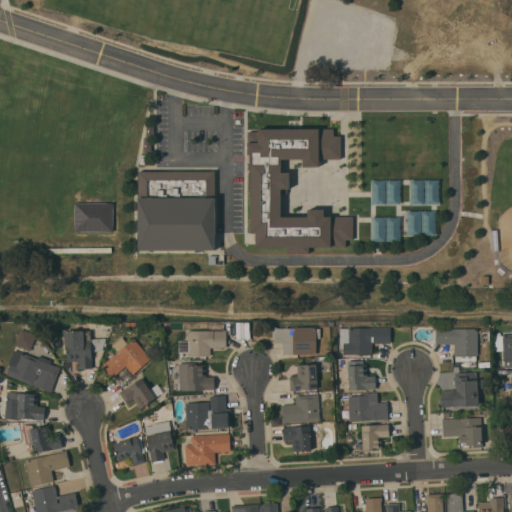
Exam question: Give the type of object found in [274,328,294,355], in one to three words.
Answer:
building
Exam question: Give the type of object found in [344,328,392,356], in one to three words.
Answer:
house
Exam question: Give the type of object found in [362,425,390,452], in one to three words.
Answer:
house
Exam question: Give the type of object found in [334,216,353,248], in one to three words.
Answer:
building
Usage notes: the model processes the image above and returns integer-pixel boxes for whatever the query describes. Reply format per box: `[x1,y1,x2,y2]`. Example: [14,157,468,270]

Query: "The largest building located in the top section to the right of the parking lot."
[247,129,331,254]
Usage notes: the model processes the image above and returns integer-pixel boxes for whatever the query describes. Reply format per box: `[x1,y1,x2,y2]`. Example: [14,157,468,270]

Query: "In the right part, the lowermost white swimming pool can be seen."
[321,426,334,448]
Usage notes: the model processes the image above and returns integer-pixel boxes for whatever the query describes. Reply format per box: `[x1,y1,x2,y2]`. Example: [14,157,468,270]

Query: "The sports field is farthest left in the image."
[0,39,154,252]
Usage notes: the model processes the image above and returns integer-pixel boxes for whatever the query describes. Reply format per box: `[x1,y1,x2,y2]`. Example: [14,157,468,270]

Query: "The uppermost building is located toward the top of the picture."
[322,129,342,159]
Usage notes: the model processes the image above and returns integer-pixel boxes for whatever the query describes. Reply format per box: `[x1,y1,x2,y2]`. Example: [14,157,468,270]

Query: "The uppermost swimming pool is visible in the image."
[414,328,435,342]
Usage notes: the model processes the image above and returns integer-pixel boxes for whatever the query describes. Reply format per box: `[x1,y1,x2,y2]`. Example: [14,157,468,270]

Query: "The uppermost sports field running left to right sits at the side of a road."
[44,0,296,65]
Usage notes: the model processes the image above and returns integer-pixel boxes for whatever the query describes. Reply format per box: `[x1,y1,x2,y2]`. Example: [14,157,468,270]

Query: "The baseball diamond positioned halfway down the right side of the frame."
[490,138,512,274]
